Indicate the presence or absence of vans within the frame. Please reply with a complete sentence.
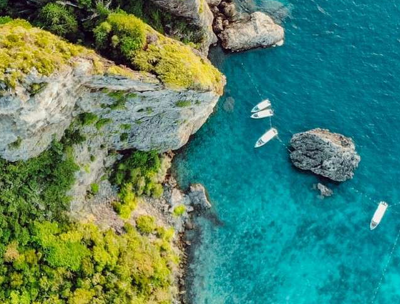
No, there appears to be no van in this shot.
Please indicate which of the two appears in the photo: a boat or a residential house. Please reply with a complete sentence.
There is a boat in the scene.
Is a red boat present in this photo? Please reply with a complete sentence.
No, I can't see a single red boat in this photo.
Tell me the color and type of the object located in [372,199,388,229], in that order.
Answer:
white boat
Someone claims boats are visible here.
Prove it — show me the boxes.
[252,98,272,111]
[251,110,275,119]
[255,127,279,146]
[372,199,388,229]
